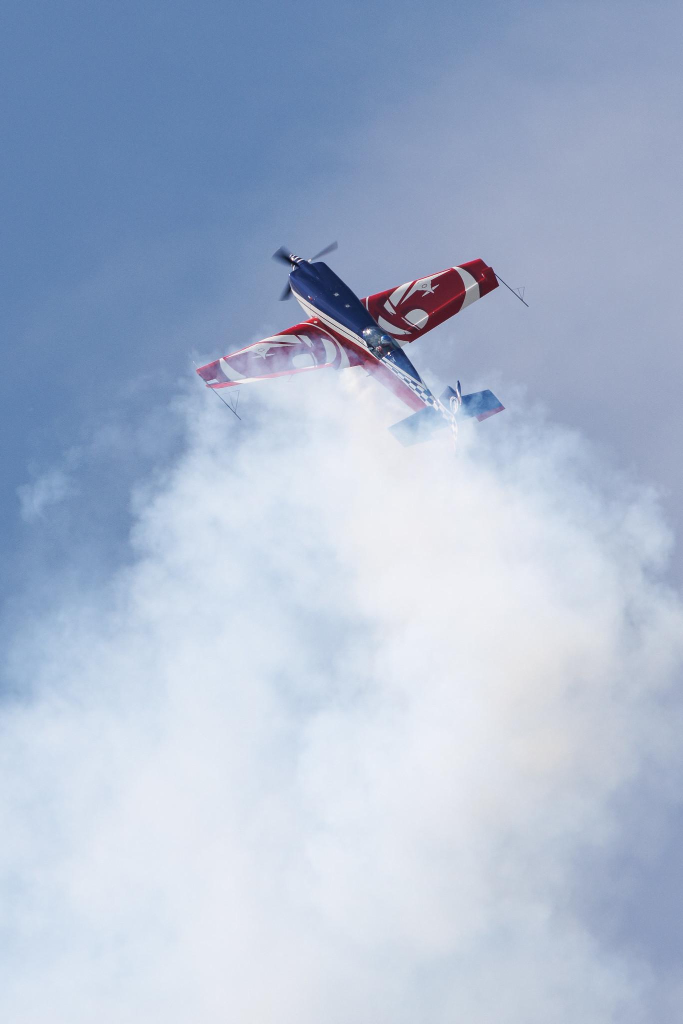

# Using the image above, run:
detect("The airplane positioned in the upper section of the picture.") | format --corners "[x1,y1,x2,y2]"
[190,239,526,454]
